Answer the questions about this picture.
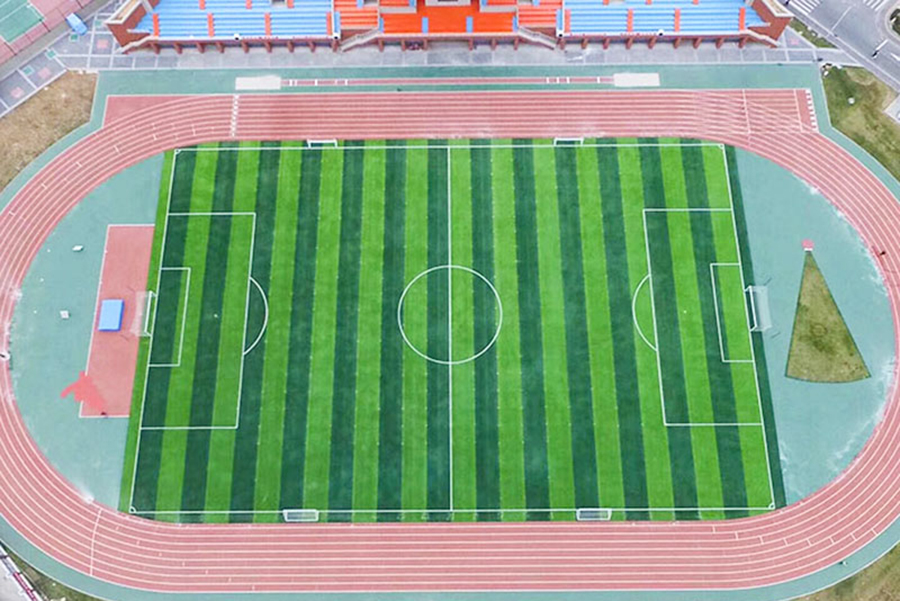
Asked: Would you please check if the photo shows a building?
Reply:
No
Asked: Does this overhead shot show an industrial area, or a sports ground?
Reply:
sports ground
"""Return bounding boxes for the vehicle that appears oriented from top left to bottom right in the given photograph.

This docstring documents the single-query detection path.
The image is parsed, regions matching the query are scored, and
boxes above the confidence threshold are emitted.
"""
[67,13,86,34]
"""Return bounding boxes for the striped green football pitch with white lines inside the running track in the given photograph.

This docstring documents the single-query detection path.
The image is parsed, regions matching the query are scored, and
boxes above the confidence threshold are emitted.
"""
[115,136,789,524]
